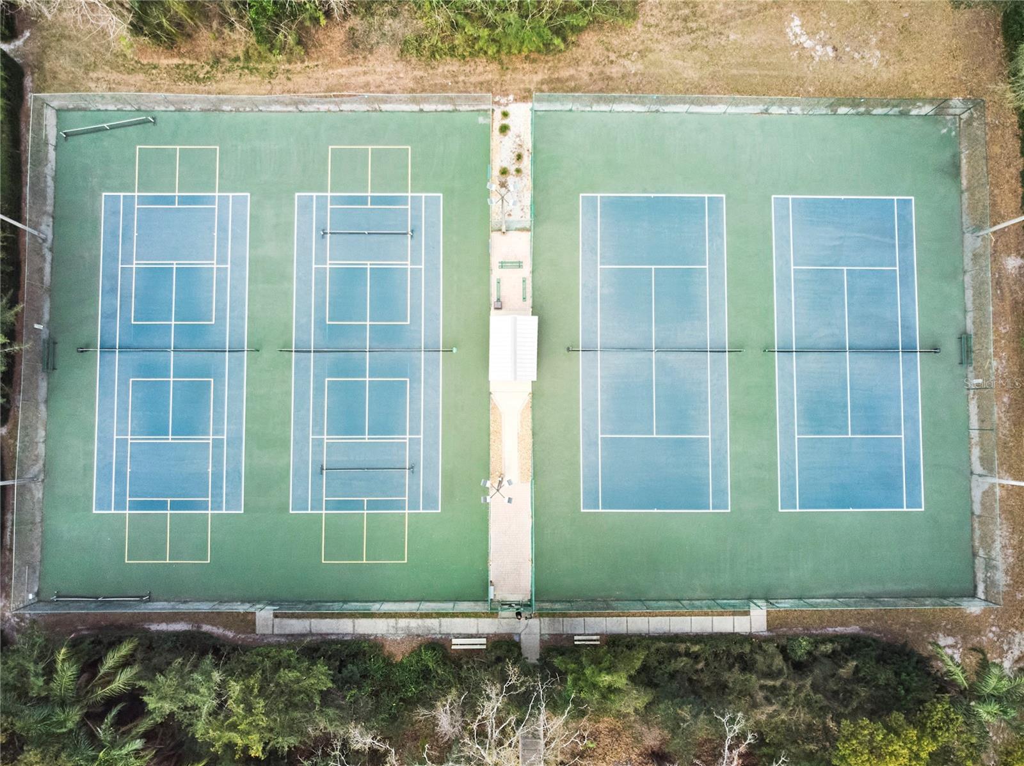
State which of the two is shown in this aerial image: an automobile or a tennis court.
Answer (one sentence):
The one in the frame is a tennis court.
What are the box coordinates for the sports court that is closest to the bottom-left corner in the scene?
[125,379,213,562]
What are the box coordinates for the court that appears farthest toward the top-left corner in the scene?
[132,146,218,323]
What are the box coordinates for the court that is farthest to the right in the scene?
[772,196,924,511]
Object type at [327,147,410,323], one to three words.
sports court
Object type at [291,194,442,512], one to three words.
tennis court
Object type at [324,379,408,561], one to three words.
sports court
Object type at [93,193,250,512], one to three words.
tennis court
